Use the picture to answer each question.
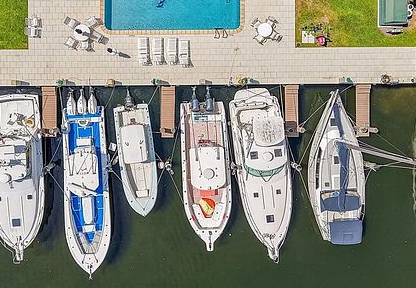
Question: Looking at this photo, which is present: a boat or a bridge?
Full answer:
It is a boat that can be seen here.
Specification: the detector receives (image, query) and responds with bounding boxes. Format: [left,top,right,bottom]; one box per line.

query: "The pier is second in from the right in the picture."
[283,86,299,137]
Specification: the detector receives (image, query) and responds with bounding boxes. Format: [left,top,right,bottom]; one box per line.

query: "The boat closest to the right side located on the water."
[309,91,416,245]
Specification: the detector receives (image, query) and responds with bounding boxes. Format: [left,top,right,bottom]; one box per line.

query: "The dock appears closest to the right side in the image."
[352,86,371,137]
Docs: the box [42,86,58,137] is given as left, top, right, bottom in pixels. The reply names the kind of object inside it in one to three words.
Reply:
pier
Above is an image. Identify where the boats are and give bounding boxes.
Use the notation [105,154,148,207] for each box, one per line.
[230,87,297,267]
[309,91,416,245]
[0,94,47,267]
[113,88,157,217]
[61,88,112,282]
[179,84,232,255]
